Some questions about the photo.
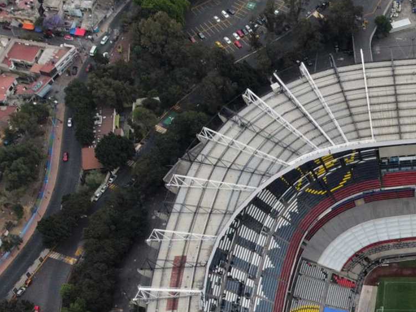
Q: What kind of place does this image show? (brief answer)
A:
sports ground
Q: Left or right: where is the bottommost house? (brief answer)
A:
left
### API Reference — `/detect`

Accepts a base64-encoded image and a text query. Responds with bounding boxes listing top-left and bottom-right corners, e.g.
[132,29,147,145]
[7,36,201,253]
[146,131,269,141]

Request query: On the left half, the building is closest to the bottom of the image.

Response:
[81,147,105,176]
